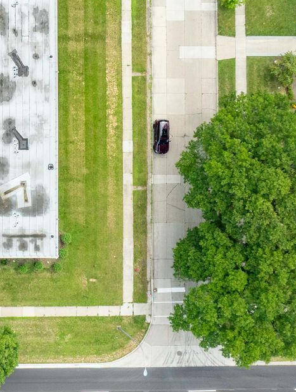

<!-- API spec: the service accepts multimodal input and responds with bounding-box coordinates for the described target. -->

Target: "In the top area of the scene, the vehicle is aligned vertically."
[152,120,169,154]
